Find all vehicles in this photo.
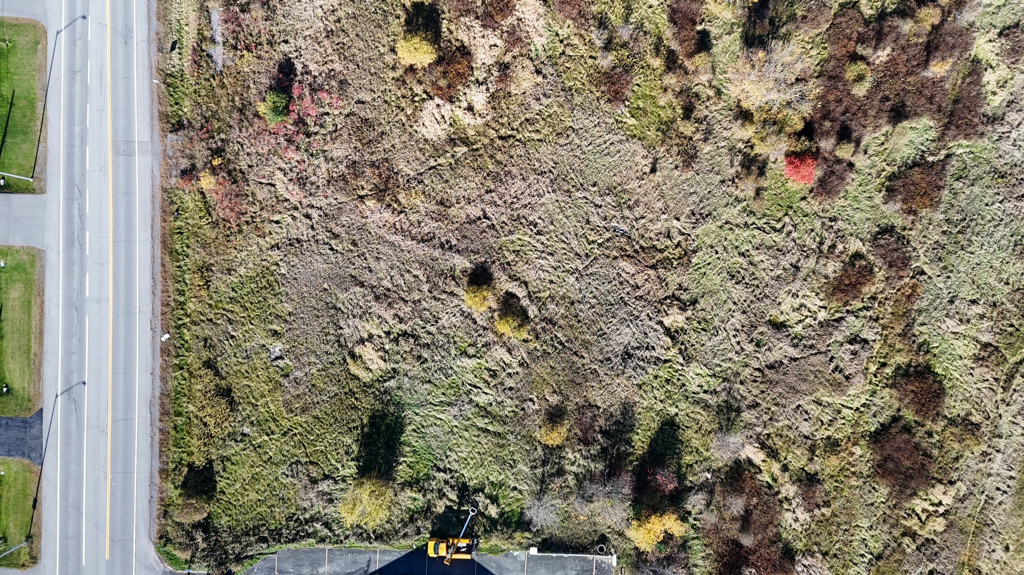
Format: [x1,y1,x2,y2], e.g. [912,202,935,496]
[427,505,478,566]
